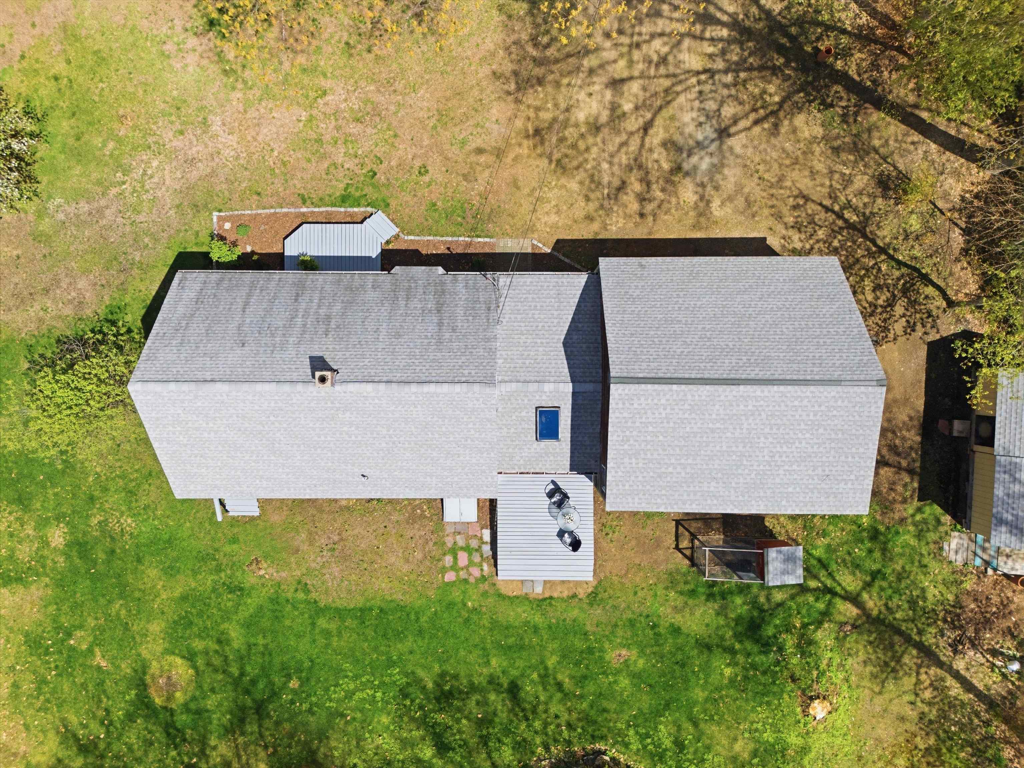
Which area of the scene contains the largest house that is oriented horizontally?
center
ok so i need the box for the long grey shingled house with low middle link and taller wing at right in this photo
[128,257,888,515]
